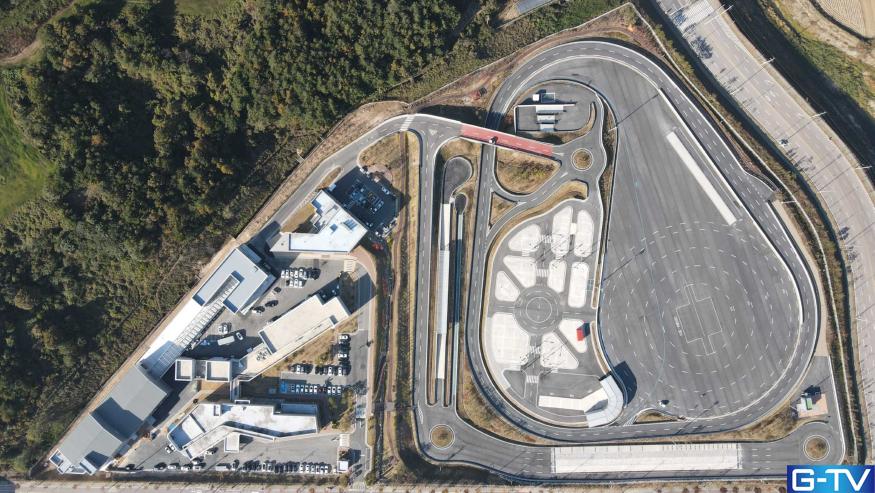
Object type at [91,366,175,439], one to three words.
hangar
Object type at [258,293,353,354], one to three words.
building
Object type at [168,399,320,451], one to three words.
building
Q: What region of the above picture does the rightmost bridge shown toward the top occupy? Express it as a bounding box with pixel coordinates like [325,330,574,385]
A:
[460,124,553,156]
